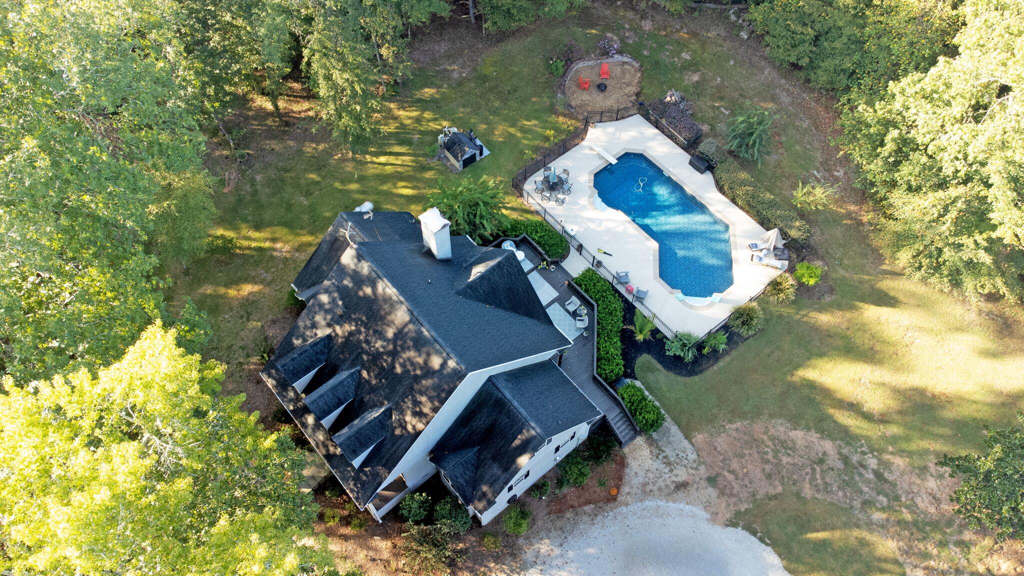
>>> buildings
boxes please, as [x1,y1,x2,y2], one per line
[260,208,606,528]
[441,130,481,170]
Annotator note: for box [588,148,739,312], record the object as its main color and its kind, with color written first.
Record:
blue swimming pool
